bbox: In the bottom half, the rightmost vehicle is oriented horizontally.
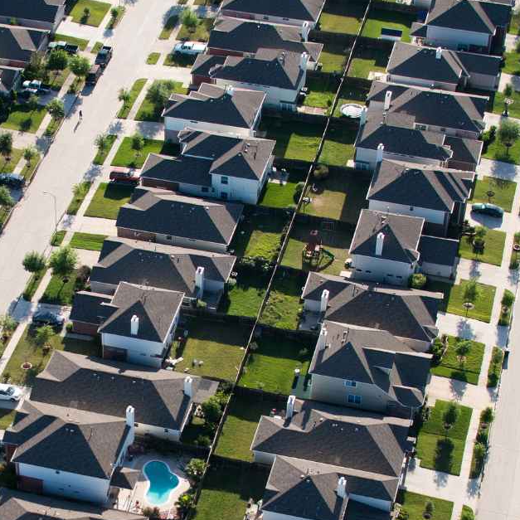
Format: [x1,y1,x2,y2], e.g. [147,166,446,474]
[32,309,66,325]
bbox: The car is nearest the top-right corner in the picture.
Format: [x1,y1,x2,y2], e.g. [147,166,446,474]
[469,199,500,213]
